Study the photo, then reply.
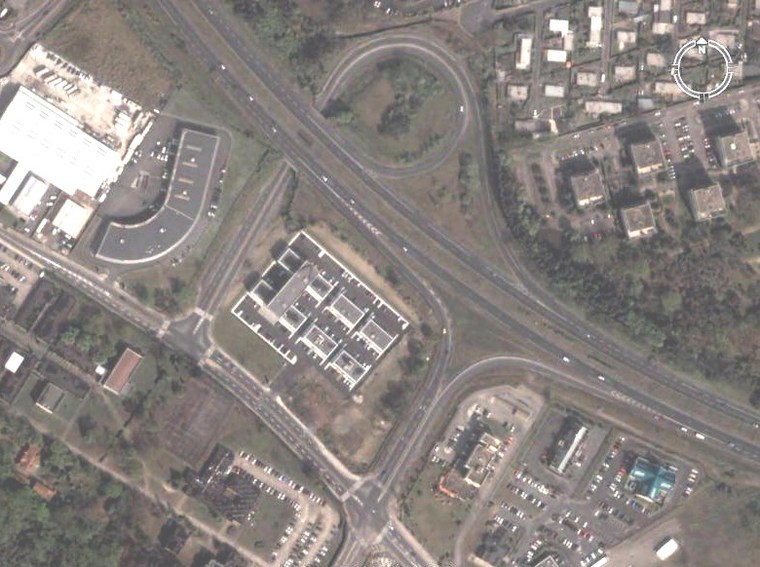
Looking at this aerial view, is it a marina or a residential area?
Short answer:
residential area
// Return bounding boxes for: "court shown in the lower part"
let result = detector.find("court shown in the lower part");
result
[165,383,235,459]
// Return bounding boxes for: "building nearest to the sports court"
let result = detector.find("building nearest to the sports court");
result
[195,444,229,491]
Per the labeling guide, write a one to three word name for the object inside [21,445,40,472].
house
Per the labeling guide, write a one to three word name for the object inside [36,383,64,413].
house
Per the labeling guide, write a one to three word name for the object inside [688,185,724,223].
building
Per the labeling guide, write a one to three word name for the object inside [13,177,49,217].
building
